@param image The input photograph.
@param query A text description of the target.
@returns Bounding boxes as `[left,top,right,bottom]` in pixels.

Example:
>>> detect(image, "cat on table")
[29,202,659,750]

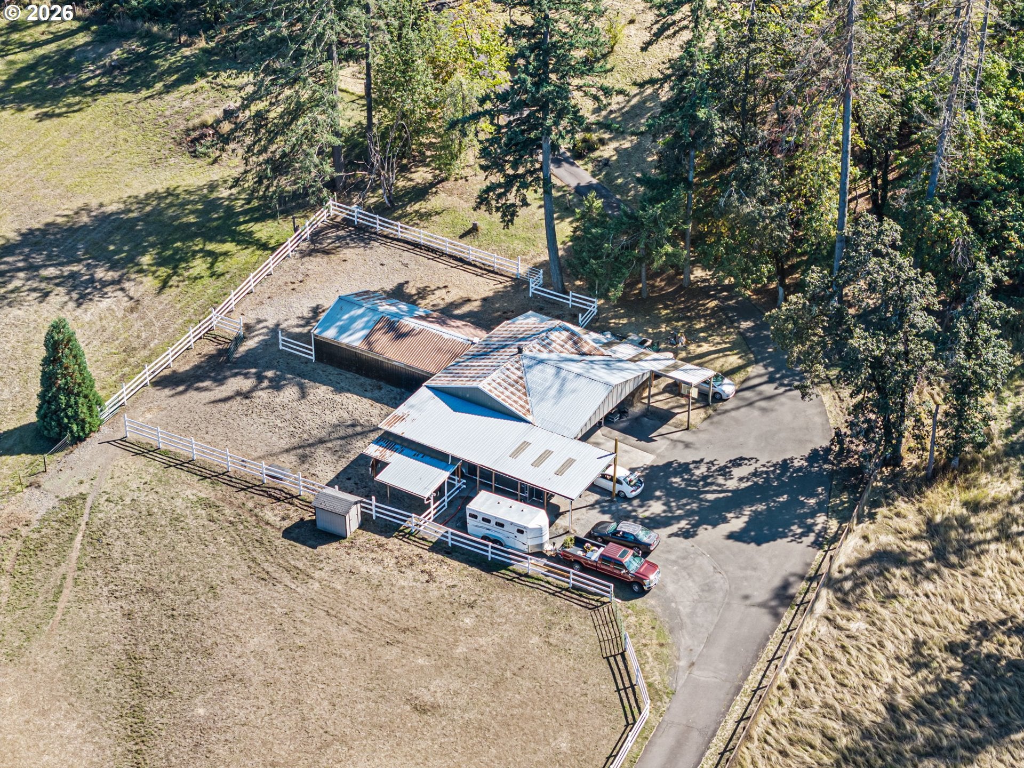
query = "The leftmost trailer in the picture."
[468,493,560,553]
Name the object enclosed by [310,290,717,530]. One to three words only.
barn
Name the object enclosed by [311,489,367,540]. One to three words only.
shed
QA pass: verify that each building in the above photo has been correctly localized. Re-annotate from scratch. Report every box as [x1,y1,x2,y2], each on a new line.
[310,290,717,530]
[311,489,367,540]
